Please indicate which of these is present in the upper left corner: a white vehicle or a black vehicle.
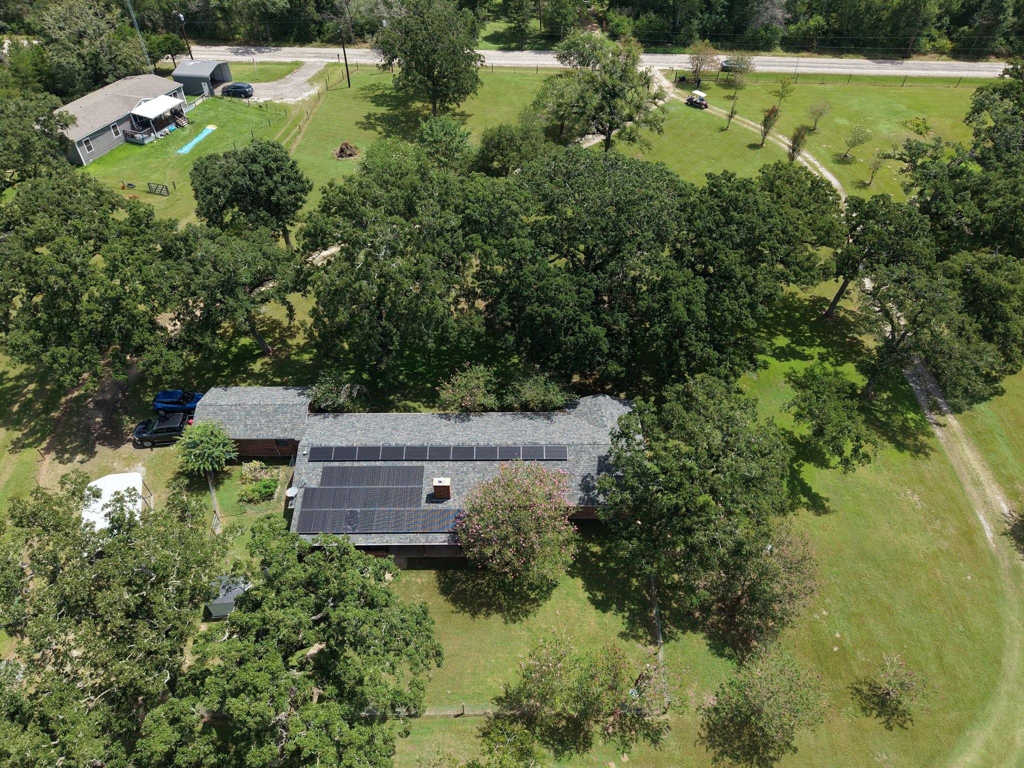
black vehicle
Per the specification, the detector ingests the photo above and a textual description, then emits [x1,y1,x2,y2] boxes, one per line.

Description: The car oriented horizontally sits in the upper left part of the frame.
[218,82,252,98]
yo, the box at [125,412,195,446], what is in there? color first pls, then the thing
black truck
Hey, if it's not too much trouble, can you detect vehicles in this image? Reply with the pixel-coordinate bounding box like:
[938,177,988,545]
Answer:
[683,86,705,106]
[218,82,252,98]
[150,388,206,415]
[716,57,751,73]
[125,412,195,446]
